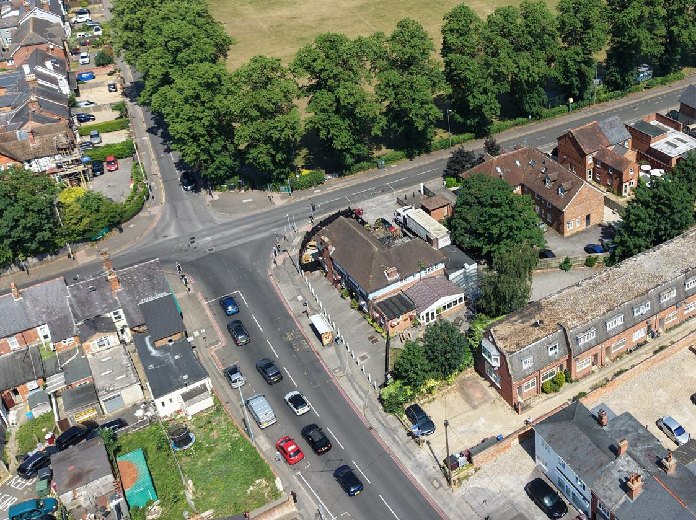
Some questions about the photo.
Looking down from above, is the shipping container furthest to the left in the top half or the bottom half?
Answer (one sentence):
The shipping container furthest to the left is in the bottom half of the image.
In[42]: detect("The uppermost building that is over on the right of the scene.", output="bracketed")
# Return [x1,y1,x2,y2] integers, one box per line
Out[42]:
[629,73,652,94]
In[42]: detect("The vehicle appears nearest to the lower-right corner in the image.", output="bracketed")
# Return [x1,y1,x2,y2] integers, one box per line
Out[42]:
[655,413,690,447]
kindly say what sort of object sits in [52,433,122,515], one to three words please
building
